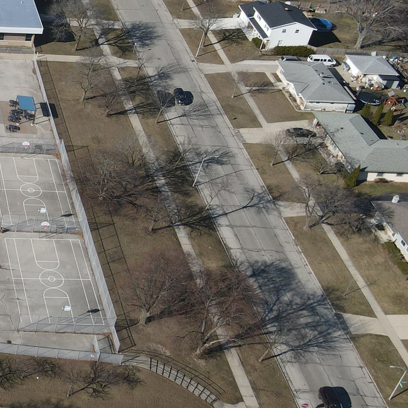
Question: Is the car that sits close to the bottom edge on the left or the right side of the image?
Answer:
right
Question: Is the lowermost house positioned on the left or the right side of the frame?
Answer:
right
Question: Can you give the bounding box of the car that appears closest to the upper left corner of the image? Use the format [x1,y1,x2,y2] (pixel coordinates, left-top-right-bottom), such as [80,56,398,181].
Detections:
[172,87,187,103]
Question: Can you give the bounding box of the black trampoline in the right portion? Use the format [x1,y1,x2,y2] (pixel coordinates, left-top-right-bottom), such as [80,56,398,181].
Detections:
[358,89,383,103]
